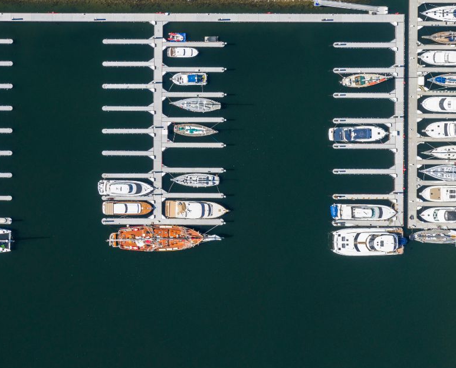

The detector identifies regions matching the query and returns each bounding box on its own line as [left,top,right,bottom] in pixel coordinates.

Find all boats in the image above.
[167,48,199,57]
[424,146,456,159]
[330,203,400,222]
[428,72,456,88]
[164,200,230,220]
[417,186,456,202]
[418,94,456,113]
[413,229,456,244]
[172,174,219,190]
[170,97,220,115]
[416,207,456,225]
[166,33,184,42]
[327,125,390,145]
[421,30,456,45]
[97,180,155,196]
[422,120,456,138]
[330,227,406,255]
[102,199,156,218]
[169,71,207,86]
[340,72,402,90]
[416,165,456,181]
[417,48,456,66]
[204,36,219,42]
[0,228,14,252]
[419,6,456,21]
[174,123,219,137]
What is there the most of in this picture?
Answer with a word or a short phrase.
water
